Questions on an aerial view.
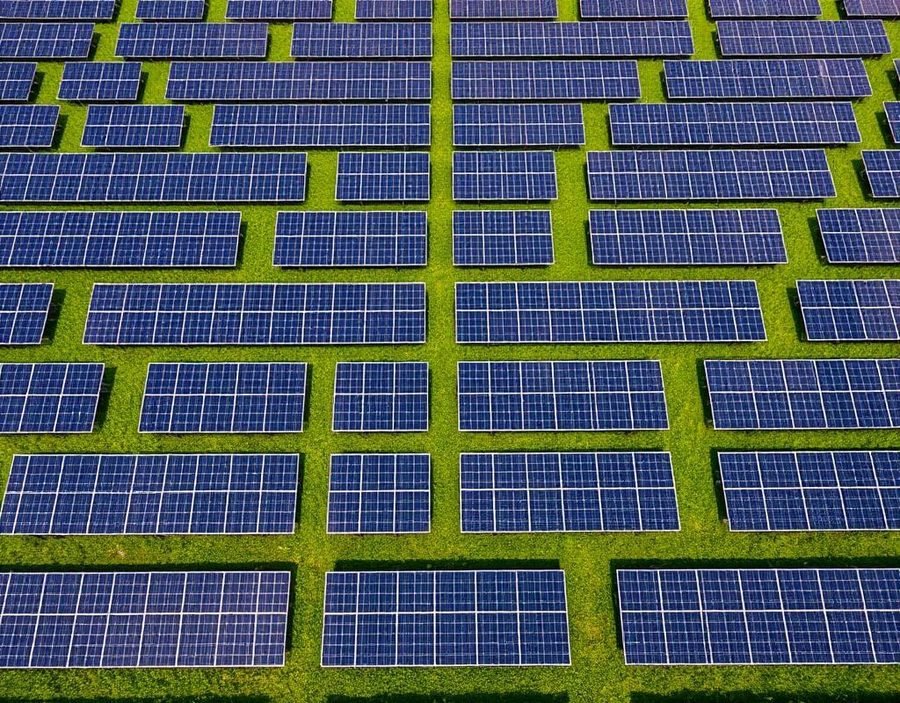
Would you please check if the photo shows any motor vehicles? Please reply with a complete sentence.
No, the frame has no motor vehicle in it.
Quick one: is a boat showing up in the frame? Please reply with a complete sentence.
No, the photo shows no boat.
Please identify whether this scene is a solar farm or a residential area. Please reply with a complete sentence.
The area seen from above is a solar farm.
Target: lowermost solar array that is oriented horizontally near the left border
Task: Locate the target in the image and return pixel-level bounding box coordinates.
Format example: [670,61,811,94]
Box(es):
[0,571,290,669]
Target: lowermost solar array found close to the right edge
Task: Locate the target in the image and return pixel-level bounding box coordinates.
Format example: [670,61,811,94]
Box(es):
[617,567,900,664]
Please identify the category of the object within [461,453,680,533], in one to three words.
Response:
solar array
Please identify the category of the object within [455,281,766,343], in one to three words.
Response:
solar array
